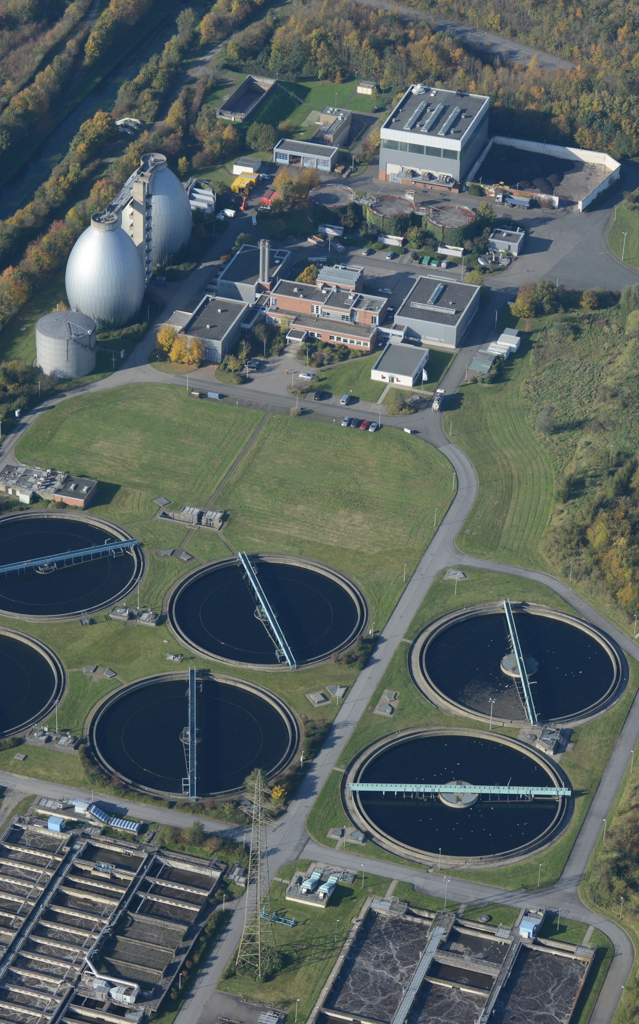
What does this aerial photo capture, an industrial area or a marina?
industrial area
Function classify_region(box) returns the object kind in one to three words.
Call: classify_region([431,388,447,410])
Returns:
vehicle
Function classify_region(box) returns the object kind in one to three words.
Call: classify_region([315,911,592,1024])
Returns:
storage tank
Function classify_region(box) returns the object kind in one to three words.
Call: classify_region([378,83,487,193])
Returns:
building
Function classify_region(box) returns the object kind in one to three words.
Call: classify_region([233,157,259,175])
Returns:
shed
